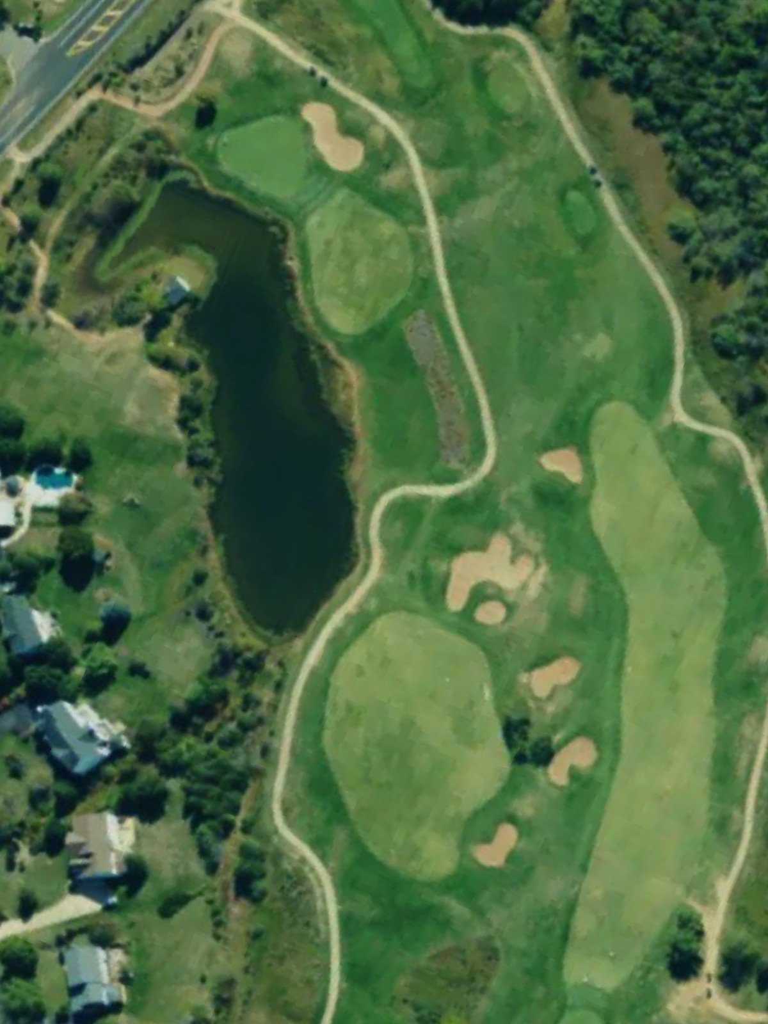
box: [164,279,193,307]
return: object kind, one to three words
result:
shed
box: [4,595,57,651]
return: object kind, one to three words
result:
house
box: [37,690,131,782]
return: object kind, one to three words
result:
house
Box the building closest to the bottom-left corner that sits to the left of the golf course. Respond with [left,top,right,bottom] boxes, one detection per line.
[66,945,126,1015]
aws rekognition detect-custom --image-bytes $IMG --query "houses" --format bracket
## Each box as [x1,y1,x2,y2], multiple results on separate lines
[61,814,136,874]
[37,690,131,782]
[66,945,126,1015]
[0,499,20,526]
[4,595,57,651]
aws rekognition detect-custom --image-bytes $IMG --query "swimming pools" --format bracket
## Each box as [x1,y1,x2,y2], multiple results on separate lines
[35,464,75,491]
